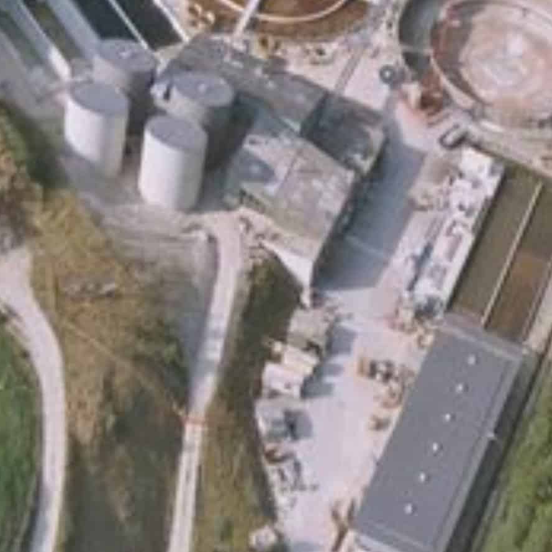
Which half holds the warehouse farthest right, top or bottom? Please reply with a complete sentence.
Seen from above, the warehouse farthest right lies in the bottom half of the view.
